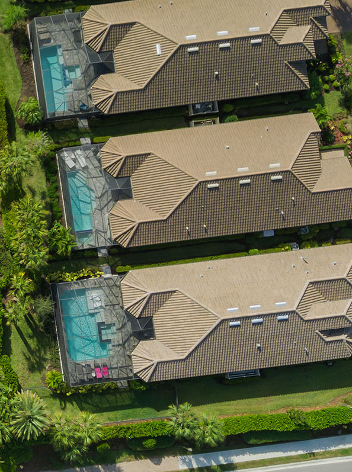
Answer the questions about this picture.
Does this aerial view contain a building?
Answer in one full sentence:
Yes, this view includes a building.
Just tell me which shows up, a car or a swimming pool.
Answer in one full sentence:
Visible in the photo is a swimming pool.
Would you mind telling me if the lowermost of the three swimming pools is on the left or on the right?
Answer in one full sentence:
You can find the lowermost of the three swimming pools on the left side of the picture.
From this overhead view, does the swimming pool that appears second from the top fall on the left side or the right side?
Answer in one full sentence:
The swimming pool that appears second from the top is on the left side of the image.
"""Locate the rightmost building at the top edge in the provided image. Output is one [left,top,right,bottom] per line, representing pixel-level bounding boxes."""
[80,0,333,116]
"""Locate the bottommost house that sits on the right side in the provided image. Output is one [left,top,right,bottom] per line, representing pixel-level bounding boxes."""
[118,242,352,380]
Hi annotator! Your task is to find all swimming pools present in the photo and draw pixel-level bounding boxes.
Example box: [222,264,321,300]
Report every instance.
[40,44,85,113]
[67,169,98,246]
[60,288,118,363]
